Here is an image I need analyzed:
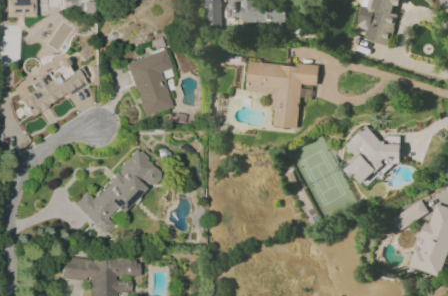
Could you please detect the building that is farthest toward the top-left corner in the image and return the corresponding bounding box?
[8,0,39,17]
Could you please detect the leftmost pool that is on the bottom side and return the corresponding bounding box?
[152,272,168,296]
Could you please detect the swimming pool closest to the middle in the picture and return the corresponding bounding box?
[234,106,266,126]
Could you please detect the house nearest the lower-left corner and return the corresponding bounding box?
[62,258,142,296]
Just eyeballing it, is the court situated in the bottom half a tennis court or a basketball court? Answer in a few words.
tennis court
